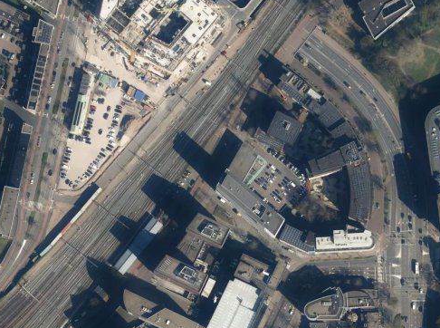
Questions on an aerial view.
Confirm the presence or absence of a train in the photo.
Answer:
Yes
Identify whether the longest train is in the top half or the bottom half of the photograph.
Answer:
bottom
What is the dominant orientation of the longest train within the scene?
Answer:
at an angle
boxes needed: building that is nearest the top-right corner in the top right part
[359,0,415,41]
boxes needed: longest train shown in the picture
[29,188,102,264]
